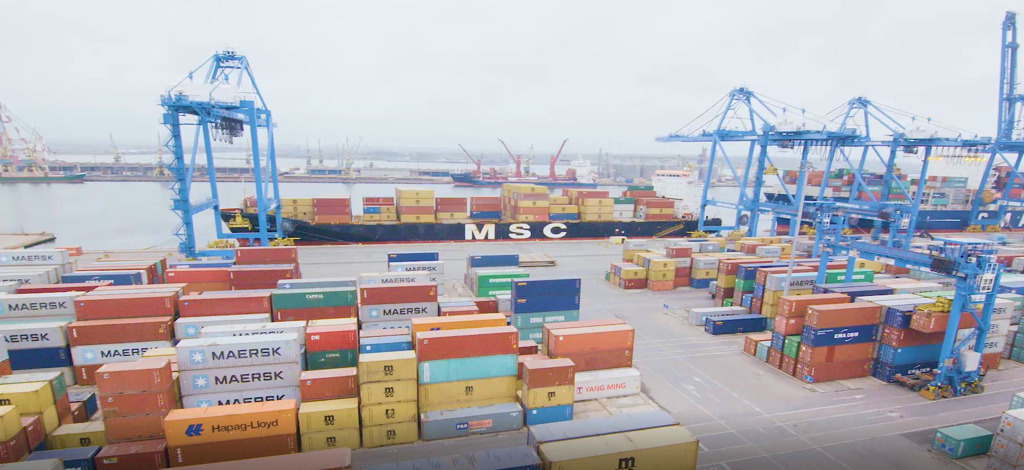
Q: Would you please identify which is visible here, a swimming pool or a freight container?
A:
freight container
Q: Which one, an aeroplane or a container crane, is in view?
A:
container crane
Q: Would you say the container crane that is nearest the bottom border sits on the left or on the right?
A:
right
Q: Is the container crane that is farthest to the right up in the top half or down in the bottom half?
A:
top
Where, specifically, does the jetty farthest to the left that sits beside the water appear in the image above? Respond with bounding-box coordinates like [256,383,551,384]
[0,232,55,252]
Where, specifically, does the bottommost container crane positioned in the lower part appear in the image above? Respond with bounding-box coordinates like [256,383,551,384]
[804,230,1019,401]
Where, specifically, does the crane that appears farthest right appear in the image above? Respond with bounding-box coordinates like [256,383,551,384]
[967,14,1024,227]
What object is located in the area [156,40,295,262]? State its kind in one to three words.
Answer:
container crane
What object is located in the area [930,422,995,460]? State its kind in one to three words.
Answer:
shipping container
